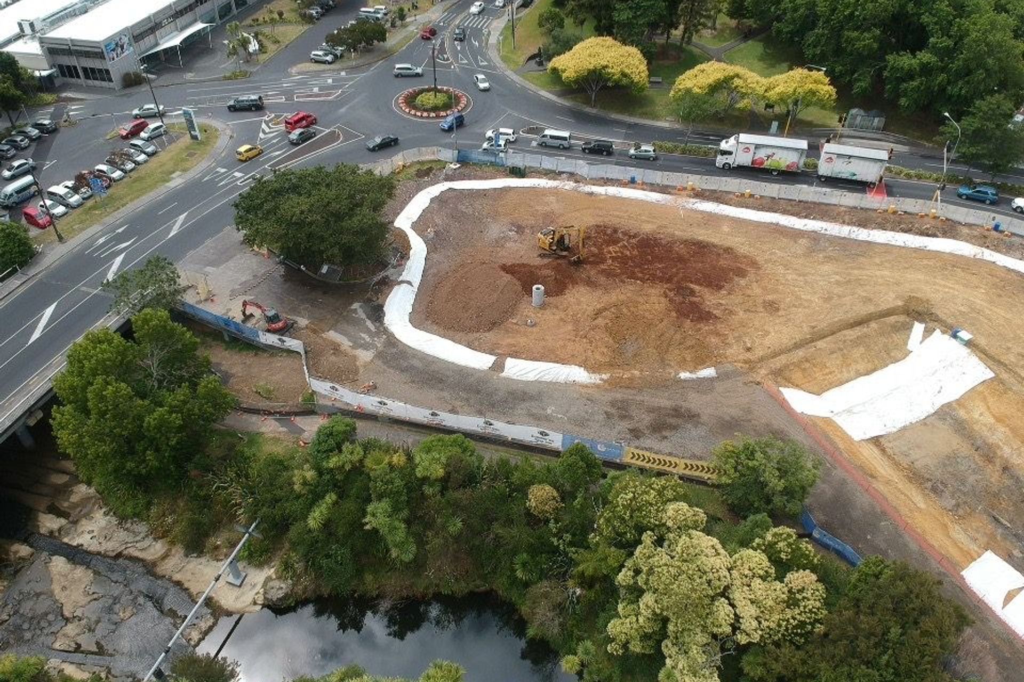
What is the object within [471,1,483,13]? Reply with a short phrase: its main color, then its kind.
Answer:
white vehicle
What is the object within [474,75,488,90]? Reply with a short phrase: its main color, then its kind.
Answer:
white car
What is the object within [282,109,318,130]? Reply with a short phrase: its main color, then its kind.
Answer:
red vehicle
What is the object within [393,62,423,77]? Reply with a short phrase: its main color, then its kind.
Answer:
gray car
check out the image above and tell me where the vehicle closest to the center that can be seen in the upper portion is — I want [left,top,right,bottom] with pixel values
[540,220,588,259]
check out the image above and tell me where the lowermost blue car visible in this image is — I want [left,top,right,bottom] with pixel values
[956,184,999,204]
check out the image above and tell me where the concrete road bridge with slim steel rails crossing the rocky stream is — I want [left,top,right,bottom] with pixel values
[0,263,181,447]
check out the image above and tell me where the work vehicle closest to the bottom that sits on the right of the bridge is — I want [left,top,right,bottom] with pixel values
[246,290,291,331]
